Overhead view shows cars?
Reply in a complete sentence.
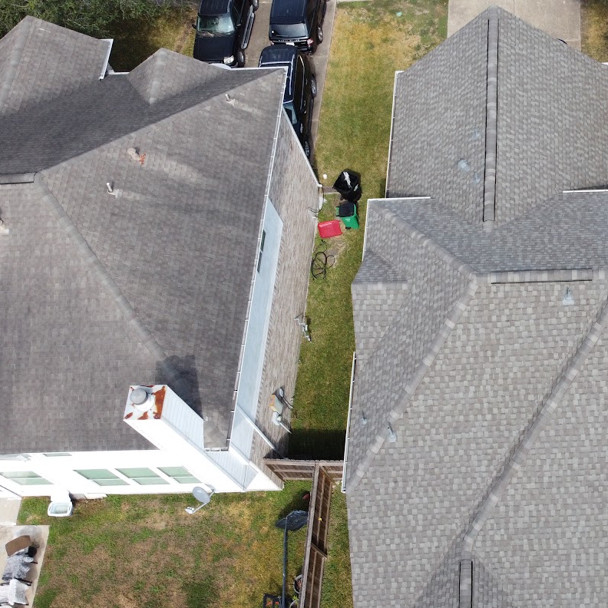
Yes, the frame does contain a car.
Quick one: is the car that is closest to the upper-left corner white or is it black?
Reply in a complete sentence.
The color of the car that is closest to the upper-left corner is black.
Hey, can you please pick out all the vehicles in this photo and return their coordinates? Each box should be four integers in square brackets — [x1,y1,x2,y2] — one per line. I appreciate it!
[263,50,318,156]
[265,0,326,54]
[189,0,258,74]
